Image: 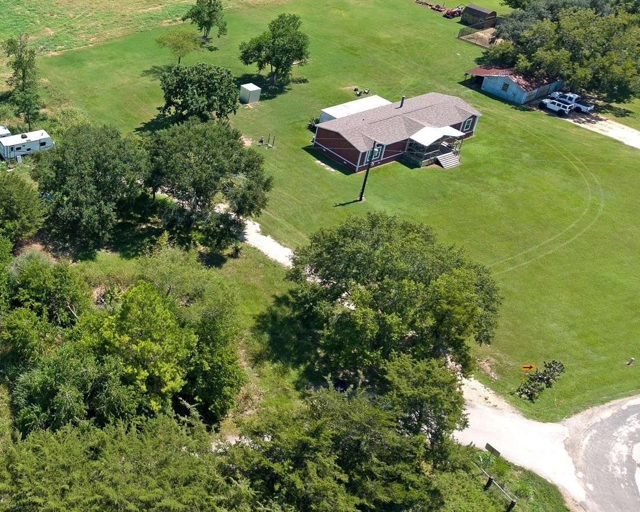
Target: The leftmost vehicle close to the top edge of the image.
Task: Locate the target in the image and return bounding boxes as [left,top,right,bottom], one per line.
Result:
[439,0,467,20]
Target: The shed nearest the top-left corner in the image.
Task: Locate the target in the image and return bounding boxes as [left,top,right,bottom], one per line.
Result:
[241,81,265,106]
